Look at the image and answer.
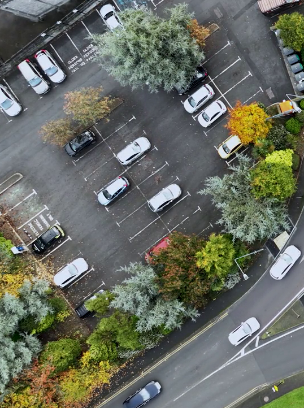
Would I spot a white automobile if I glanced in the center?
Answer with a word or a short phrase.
Yes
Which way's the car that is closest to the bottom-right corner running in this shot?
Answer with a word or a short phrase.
at an angle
